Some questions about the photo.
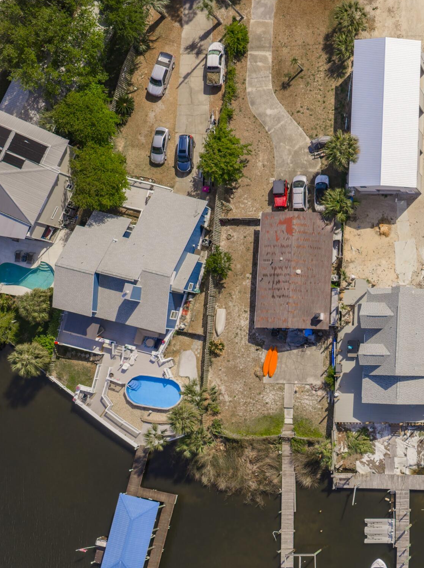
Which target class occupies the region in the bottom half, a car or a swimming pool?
swimming pool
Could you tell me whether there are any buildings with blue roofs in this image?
Yes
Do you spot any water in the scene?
Yes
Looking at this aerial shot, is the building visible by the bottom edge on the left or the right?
left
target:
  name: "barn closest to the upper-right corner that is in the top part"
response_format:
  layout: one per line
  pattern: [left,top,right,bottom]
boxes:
[349,37,424,196]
